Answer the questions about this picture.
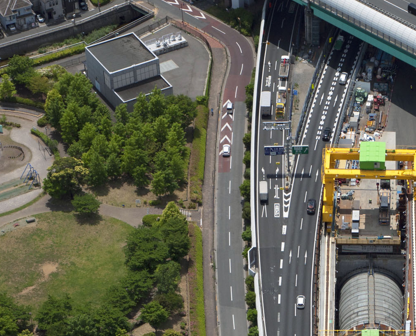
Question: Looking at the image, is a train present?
No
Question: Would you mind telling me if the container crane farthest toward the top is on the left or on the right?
right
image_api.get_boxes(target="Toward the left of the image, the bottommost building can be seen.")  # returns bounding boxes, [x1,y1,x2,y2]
[90,31,173,115]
